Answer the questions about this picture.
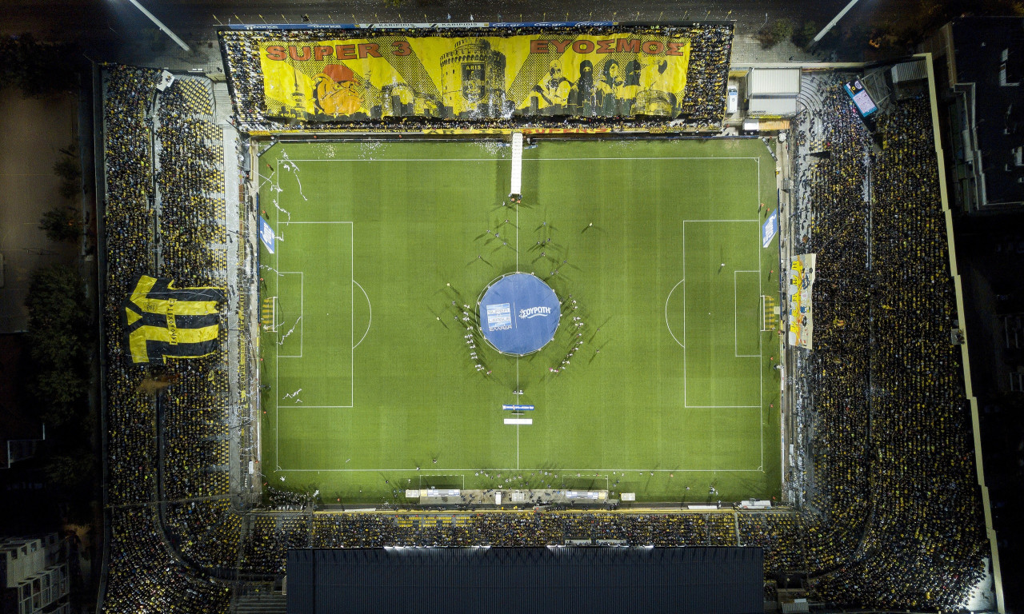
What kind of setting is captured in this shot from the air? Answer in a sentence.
What you see here is a sports ground.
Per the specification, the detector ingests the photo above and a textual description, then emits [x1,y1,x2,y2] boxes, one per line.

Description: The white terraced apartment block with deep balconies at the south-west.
[0,506,90,614]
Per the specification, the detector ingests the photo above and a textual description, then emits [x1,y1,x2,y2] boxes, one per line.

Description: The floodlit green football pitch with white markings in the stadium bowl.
[256,136,778,500]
